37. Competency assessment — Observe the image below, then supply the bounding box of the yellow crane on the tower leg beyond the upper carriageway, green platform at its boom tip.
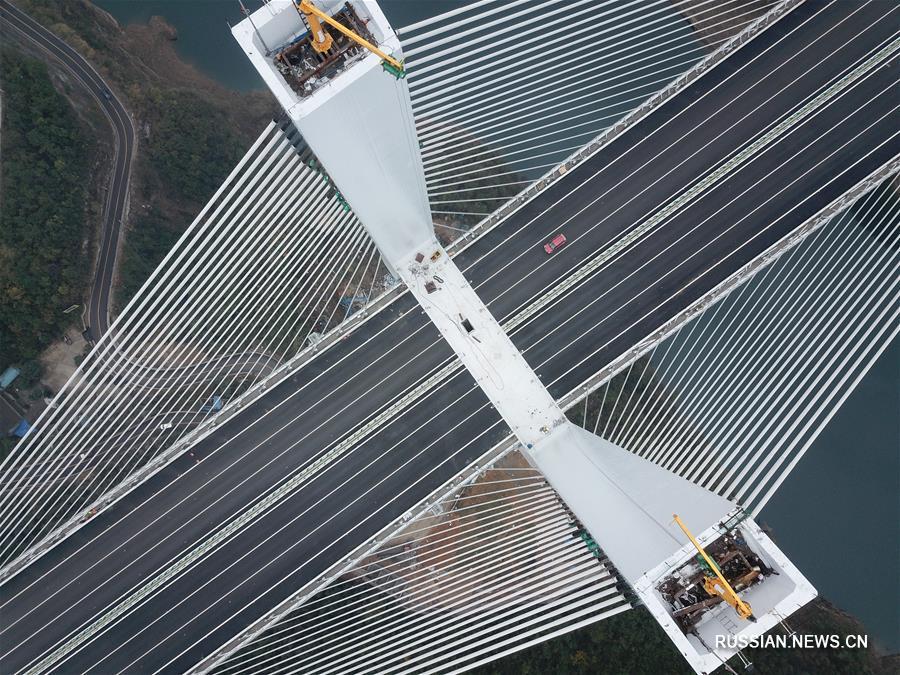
[286,0,404,78]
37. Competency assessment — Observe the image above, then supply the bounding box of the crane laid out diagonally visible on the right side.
[670,512,761,629]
